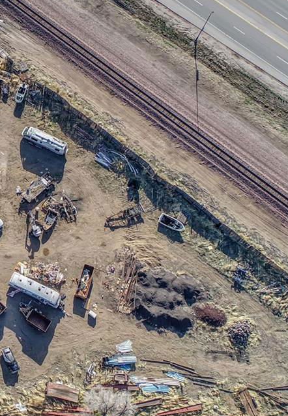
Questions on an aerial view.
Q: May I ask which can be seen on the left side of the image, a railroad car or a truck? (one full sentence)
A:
The feature located on the left side of the image is a truck.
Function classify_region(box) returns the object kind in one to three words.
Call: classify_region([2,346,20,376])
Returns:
vehicle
